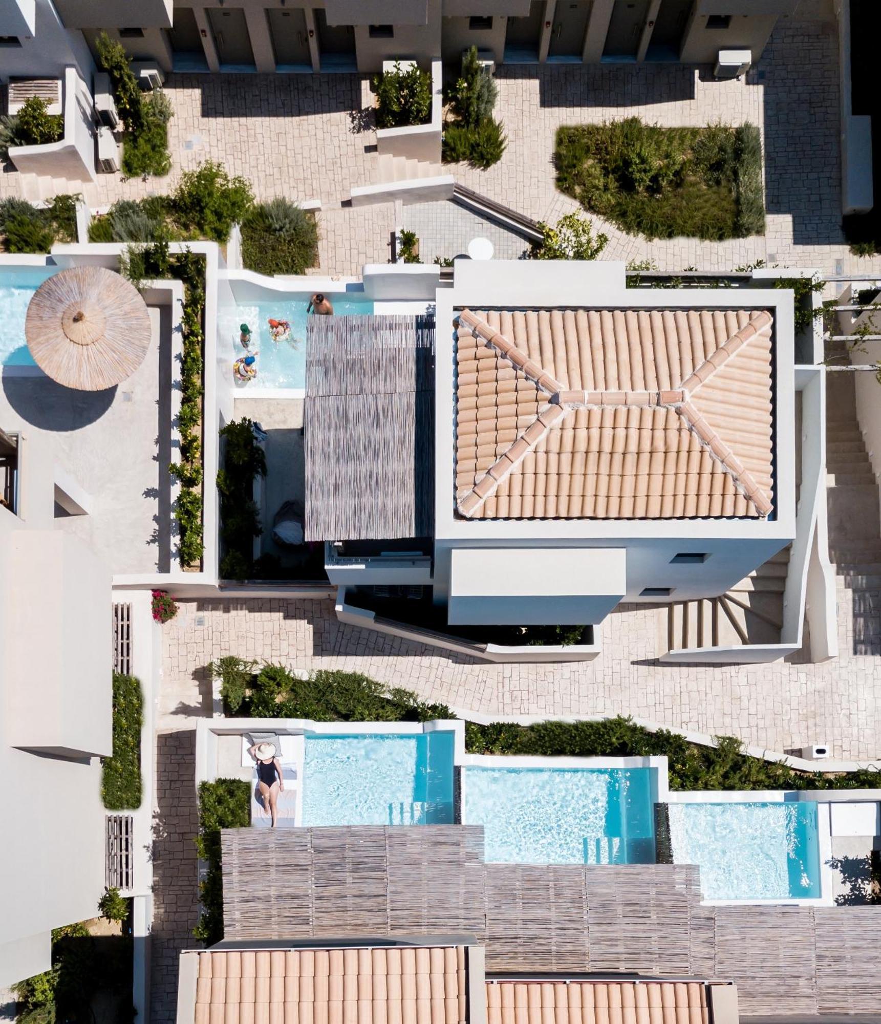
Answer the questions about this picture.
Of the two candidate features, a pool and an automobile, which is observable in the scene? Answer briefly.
pool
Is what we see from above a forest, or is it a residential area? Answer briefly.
residential area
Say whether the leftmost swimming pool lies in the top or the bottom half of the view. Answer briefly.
top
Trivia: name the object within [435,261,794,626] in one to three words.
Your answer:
house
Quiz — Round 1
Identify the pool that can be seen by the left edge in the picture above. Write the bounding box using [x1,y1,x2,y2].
[0,295,40,366]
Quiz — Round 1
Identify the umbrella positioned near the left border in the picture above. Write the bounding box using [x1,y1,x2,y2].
[26,266,151,391]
